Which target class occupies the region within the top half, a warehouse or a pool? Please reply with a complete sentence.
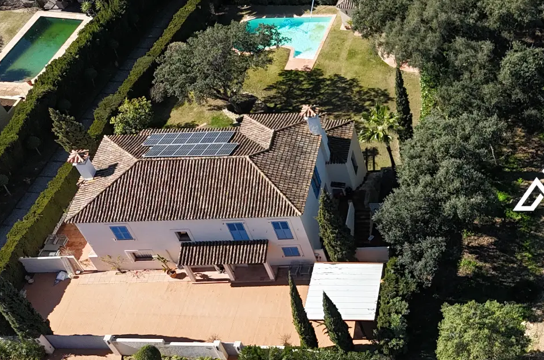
What appears within the top half is a pool.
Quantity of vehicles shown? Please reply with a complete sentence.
No vehicles are visible.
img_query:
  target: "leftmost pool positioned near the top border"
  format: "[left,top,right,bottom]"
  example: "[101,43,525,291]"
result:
[0,11,93,86]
